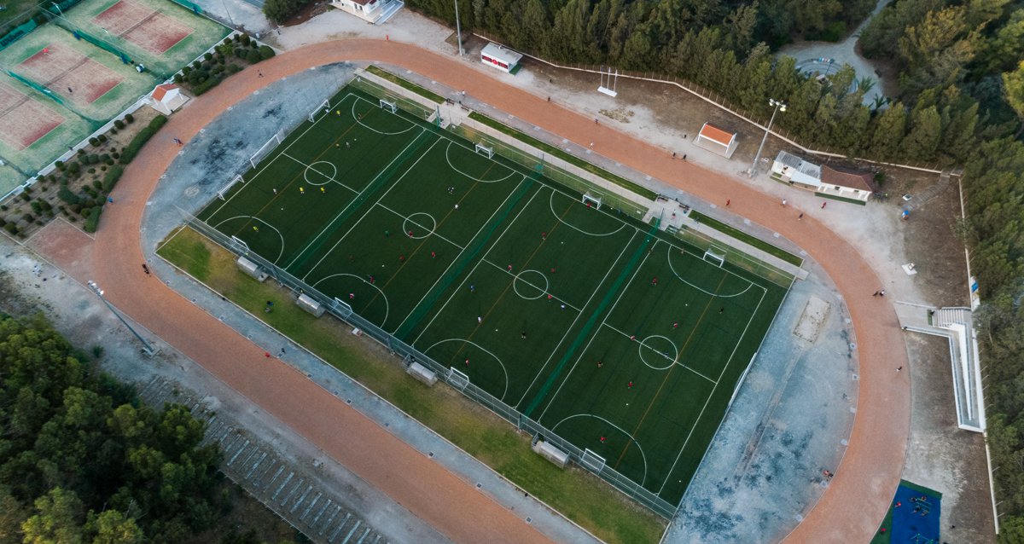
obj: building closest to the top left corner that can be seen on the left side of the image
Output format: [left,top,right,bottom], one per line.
[147,81,190,116]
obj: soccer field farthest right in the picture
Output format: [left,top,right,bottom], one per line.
[538,239,765,495]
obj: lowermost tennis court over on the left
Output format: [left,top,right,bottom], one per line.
[0,159,27,196]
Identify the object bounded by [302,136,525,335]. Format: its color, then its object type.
green soccer field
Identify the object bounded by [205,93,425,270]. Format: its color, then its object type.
green soccer field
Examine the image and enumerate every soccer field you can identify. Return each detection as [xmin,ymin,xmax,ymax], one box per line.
[412,184,638,409]
[205,93,425,270]
[538,239,765,495]
[302,136,525,335]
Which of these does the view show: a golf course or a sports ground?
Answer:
sports ground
